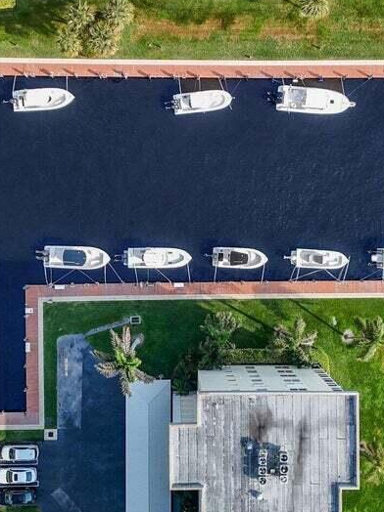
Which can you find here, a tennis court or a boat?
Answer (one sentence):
The image shows a boat.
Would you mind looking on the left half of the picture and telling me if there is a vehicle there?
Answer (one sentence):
Yes, a vehicle can be seen on the left half of the picture.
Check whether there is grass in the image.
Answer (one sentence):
Yes, there's grass in this view.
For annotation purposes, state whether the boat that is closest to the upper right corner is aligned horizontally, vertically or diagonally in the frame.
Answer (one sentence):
What the image shows is the boat that is closest to the upper right corner lying horizontally.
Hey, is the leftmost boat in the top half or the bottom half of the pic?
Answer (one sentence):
The top half of the photo is where the leftmost boat is.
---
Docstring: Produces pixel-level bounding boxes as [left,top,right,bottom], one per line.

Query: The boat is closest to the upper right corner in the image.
[263,77,368,113]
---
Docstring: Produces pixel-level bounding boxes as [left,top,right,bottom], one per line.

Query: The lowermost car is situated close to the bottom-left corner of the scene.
[0,487,37,507]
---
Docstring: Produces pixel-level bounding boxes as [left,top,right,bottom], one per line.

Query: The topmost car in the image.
[0,444,40,462]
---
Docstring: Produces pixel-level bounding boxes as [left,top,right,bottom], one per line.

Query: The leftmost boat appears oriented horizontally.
[0,76,75,111]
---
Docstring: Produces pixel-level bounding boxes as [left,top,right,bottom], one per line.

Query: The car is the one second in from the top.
[0,466,38,485]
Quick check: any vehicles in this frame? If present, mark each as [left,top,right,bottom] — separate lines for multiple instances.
[0,487,37,507]
[0,466,38,485]
[0,444,40,462]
